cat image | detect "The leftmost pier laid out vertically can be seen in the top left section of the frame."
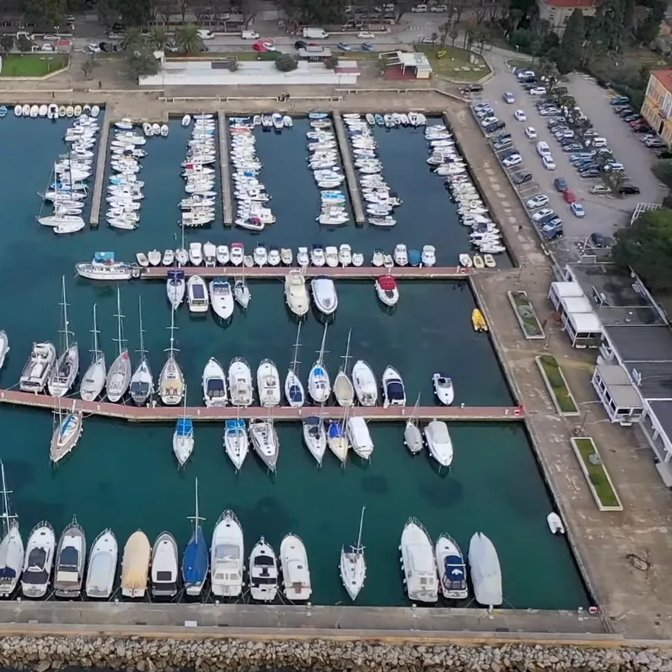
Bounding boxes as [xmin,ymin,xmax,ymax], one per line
[90,103,110,227]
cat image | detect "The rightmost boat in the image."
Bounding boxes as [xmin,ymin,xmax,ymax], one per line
[550,514,564,535]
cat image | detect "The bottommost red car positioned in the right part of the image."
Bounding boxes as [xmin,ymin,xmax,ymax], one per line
[563,188,577,202]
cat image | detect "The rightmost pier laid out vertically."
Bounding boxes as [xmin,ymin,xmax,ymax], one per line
[334,113,363,224]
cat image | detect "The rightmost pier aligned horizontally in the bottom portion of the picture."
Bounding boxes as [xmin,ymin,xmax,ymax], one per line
[123,407,524,421]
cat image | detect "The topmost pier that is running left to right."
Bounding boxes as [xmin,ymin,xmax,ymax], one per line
[139,267,469,280]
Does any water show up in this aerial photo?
Yes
